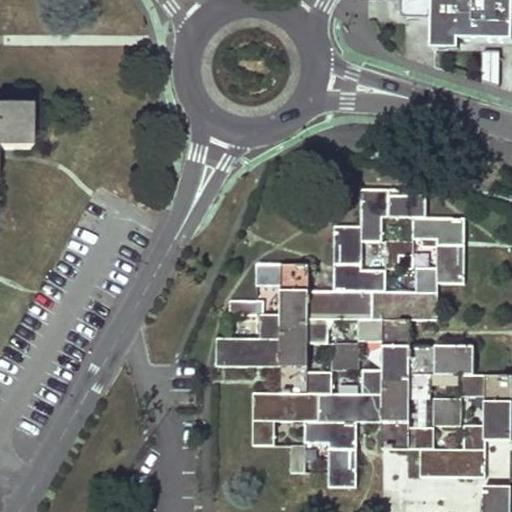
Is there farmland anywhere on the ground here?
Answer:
No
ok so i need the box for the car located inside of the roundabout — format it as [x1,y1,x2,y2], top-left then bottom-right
[280,109,300,121]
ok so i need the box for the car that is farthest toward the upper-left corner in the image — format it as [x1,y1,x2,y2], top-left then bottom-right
[86,202,104,216]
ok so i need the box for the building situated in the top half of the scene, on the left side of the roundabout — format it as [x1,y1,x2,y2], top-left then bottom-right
[0,99,36,152]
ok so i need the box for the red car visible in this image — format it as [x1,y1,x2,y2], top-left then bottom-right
[34,294,52,308]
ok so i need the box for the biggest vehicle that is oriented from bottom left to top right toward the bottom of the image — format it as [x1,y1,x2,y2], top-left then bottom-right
[141,454,158,474]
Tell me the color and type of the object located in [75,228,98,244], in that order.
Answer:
white vehicle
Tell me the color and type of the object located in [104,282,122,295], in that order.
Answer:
white vehicle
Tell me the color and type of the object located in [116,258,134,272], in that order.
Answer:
white car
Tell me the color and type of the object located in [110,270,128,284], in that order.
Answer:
white car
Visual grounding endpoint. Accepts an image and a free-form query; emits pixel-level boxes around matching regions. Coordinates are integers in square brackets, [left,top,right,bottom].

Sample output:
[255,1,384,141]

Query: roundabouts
[172,0,331,146]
